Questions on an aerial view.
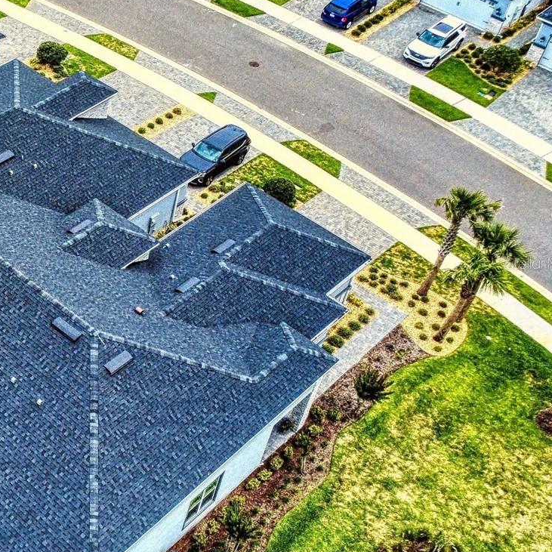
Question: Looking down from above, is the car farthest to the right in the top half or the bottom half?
top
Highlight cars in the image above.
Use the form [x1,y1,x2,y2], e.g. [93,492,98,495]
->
[320,0,379,25]
[406,12,471,65]
[182,123,256,186]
